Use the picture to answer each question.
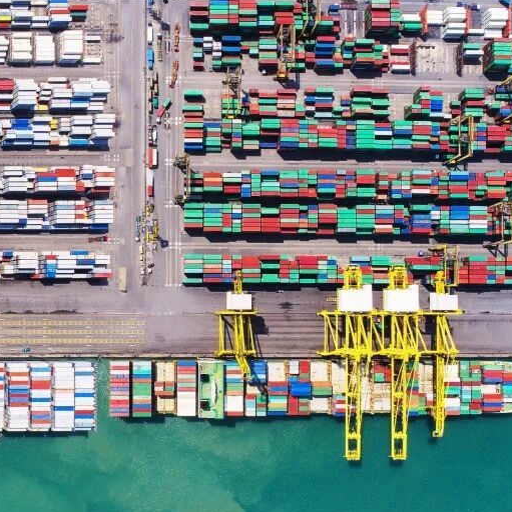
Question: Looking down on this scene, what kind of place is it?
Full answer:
This looks like a port.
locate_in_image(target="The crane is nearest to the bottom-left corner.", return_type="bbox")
[205,265,260,395]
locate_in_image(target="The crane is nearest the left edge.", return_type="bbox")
[172,154,191,204]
